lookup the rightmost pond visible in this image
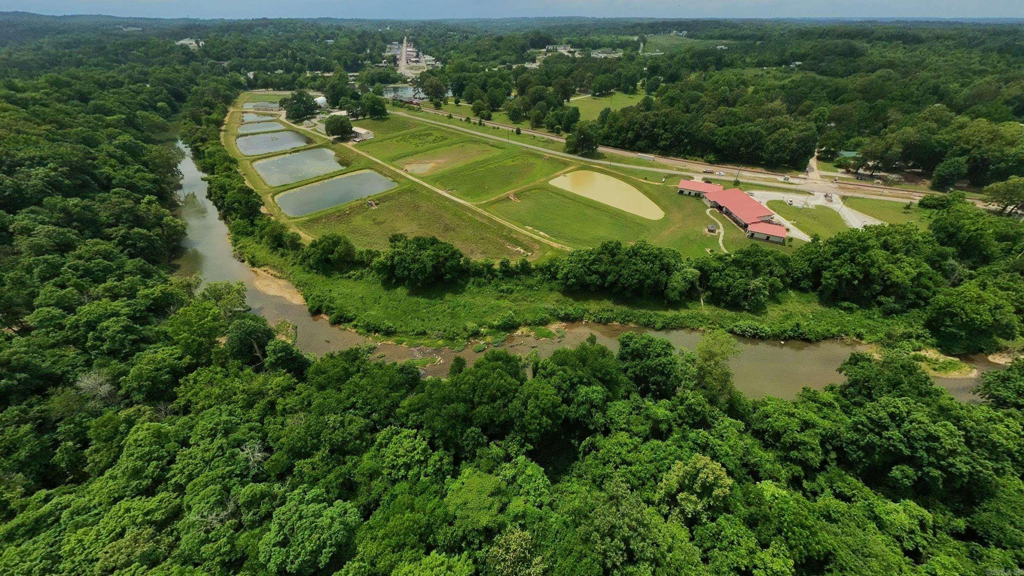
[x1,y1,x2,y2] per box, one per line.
[548,170,666,220]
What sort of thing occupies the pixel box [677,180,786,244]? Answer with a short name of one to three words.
building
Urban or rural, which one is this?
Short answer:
rural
